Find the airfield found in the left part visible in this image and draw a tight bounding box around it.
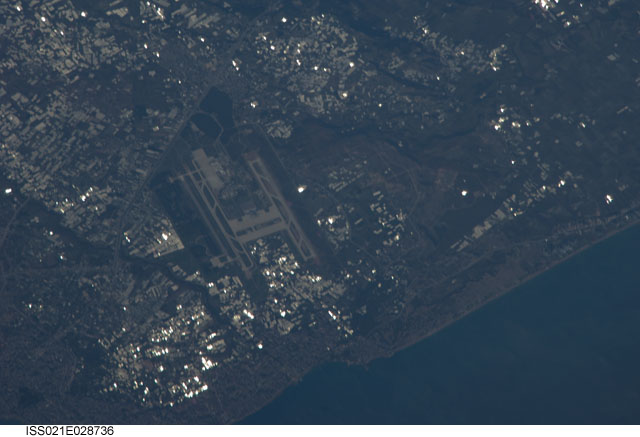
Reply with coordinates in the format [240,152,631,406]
[166,144,326,278]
